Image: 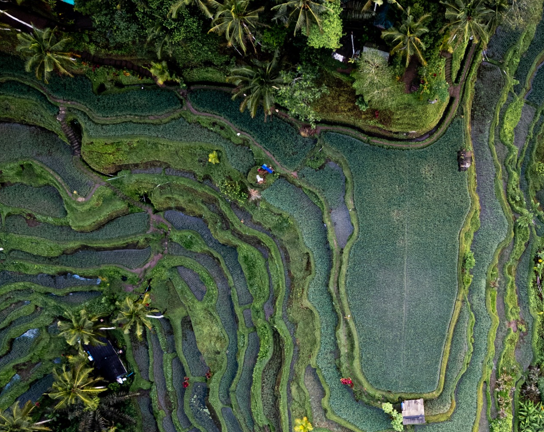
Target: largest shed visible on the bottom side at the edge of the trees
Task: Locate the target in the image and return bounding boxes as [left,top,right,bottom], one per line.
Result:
[84,340,129,377]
